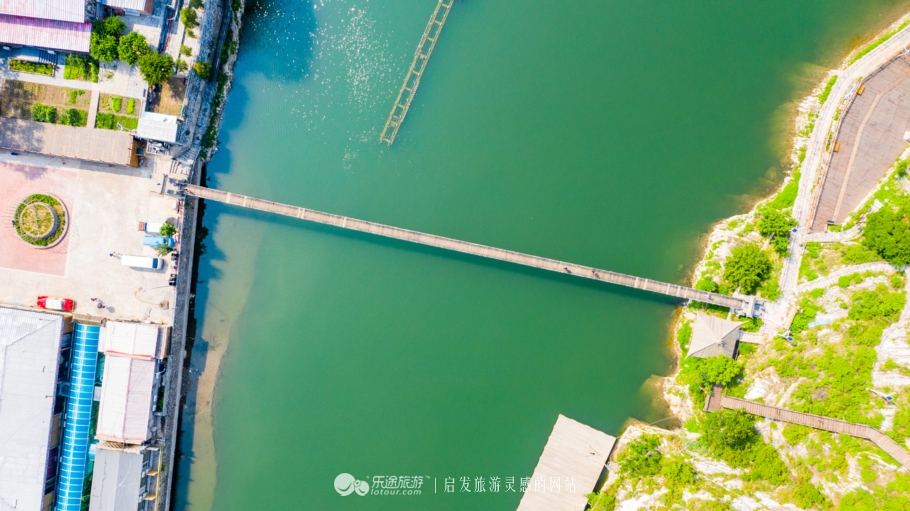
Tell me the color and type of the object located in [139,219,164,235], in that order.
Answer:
white vehicle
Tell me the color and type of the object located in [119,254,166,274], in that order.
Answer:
white vehicle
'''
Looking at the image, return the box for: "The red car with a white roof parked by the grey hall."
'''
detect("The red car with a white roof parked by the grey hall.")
[36,295,75,313]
